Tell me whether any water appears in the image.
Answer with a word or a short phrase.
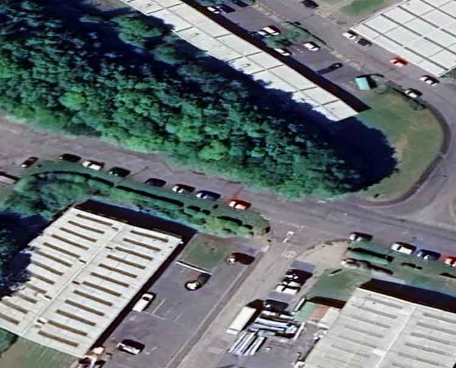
No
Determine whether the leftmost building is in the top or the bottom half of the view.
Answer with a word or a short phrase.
bottom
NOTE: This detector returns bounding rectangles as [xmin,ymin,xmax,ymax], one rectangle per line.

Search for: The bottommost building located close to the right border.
[303,287,456,368]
